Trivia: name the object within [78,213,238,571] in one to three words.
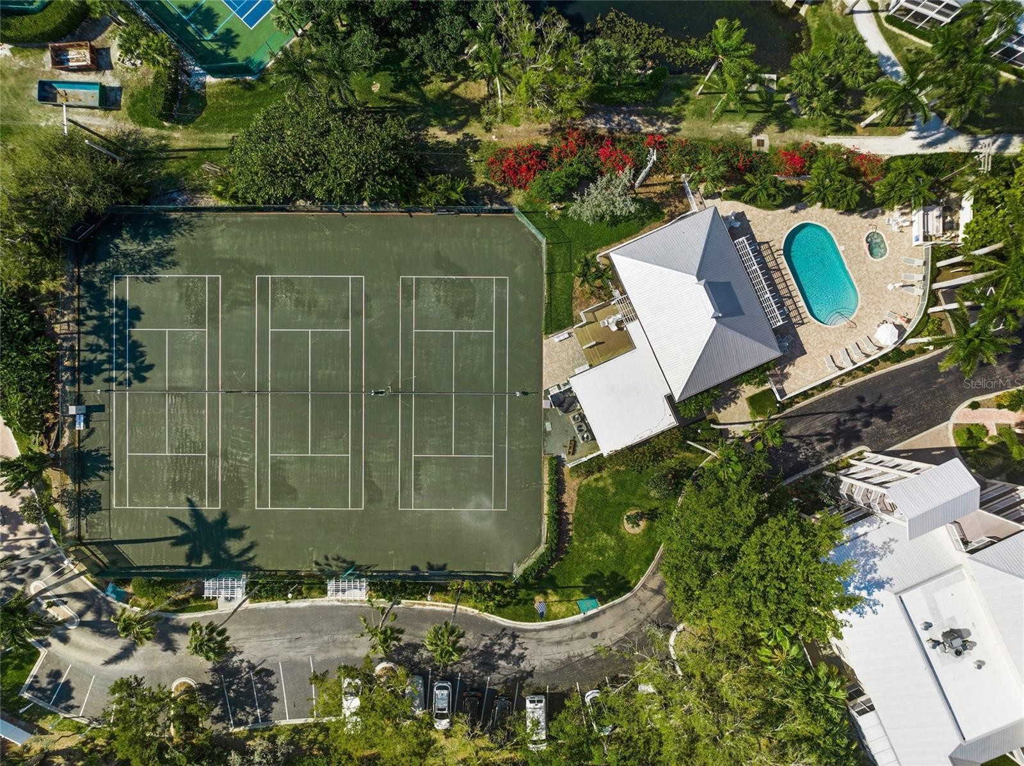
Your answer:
tennis court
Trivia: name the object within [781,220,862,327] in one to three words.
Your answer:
swimming pool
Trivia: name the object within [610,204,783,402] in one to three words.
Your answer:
building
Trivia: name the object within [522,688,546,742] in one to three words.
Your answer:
vehicle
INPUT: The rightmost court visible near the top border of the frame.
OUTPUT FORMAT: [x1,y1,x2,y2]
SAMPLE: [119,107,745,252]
[134,0,325,77]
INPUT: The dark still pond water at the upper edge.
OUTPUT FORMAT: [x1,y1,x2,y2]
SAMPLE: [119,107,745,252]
[537,0,806,76]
